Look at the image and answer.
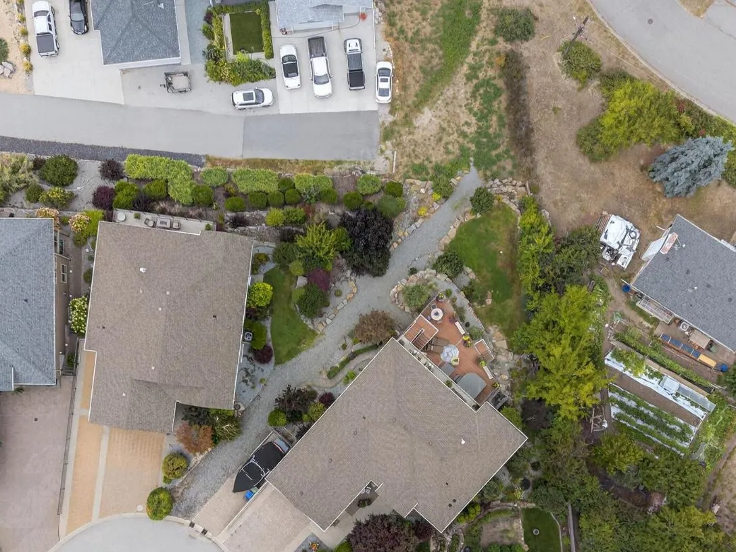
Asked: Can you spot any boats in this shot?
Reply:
Yes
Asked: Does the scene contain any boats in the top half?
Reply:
No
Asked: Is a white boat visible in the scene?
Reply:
No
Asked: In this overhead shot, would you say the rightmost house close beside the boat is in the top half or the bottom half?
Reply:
bottom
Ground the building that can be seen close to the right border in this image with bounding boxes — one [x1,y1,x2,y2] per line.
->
[629,214,736,353]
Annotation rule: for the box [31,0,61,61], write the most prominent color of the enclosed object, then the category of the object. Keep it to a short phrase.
white truck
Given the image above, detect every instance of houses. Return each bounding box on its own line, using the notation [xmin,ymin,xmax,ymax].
[95,0,184,77]
[80,220,253,435]
[265,337,528,534]
[629,214,736,353]
[0,217,70,483]
[276,0,375,41]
